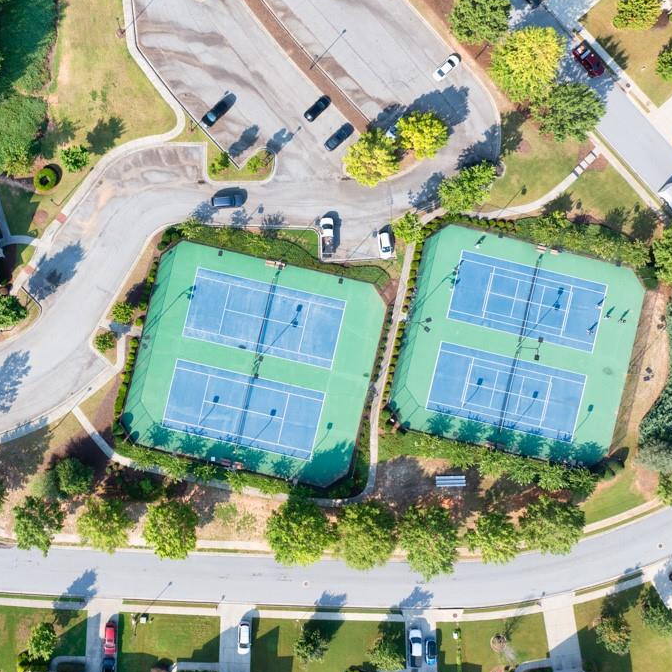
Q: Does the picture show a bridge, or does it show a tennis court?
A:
tennis court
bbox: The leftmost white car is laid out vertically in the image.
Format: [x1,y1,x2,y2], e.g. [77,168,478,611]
[238,621,251,653]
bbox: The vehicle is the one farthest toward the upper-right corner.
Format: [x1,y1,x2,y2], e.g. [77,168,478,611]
[573,40,605,77]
